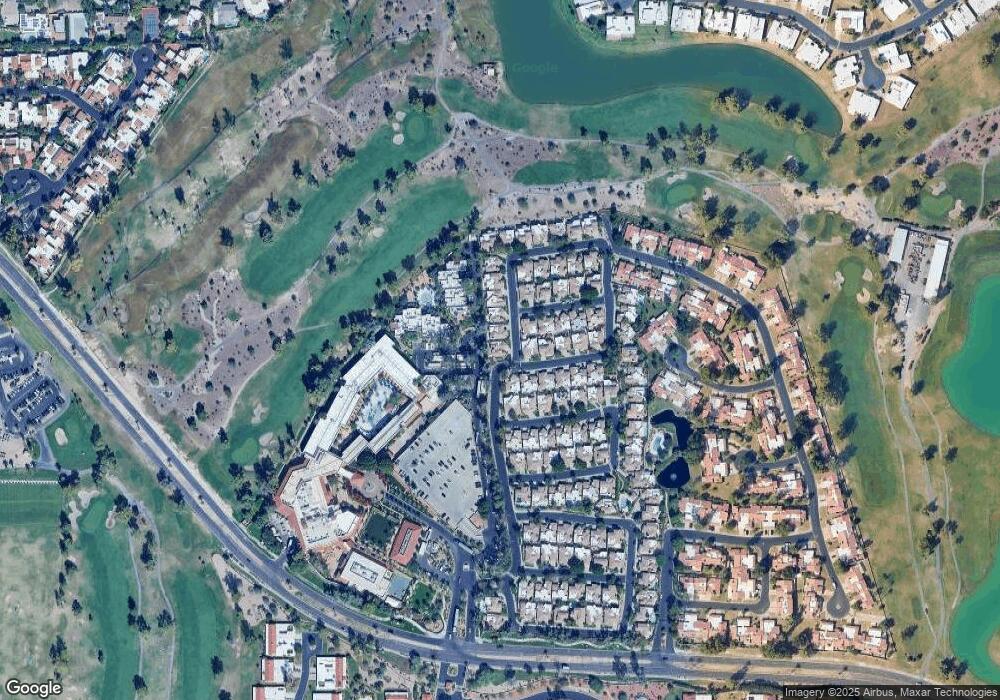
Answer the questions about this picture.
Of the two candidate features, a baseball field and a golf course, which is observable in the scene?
golf course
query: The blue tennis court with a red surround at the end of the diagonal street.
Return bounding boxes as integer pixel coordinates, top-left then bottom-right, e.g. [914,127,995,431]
[142,8,159,43]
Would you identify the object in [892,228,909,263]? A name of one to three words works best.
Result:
shed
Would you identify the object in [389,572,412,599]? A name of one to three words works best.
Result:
sports court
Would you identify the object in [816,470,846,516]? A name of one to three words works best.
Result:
house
